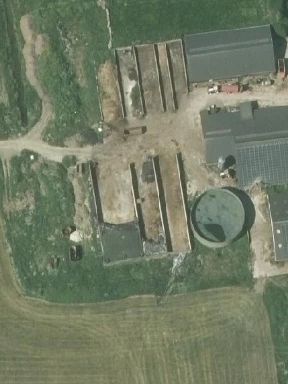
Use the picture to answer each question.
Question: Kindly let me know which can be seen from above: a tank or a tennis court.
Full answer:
Visible in the photo is a tank.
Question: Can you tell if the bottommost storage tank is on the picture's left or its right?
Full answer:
You can find the bottommost storage tank on the right side of the picture.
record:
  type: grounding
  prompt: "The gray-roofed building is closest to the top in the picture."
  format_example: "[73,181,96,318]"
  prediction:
[183,26,277,86]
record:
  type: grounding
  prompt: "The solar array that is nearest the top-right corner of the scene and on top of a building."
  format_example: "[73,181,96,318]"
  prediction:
[240,147,288,188]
